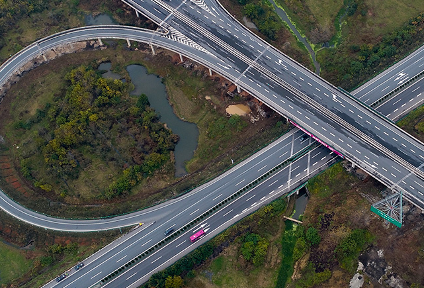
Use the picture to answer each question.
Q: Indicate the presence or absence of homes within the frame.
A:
No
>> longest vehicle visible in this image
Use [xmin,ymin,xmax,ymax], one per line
[189,229,205,241]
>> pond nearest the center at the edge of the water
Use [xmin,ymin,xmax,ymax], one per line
[128,63,198,176]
